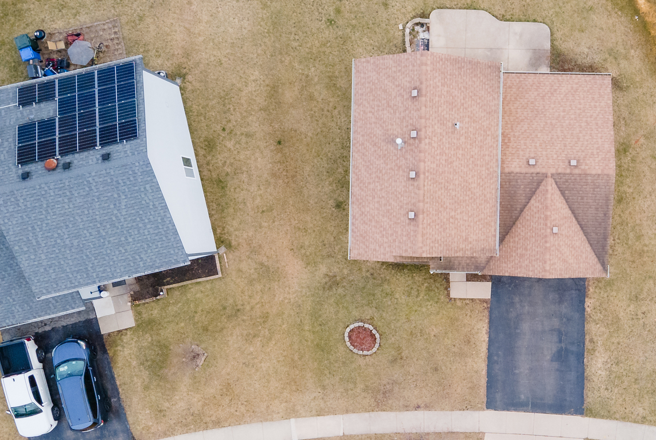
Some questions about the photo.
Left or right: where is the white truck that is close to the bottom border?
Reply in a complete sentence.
The white truck that is close to the bottom border appears in the left half of the scene.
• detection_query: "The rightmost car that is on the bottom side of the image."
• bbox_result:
[54,336,112,432]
